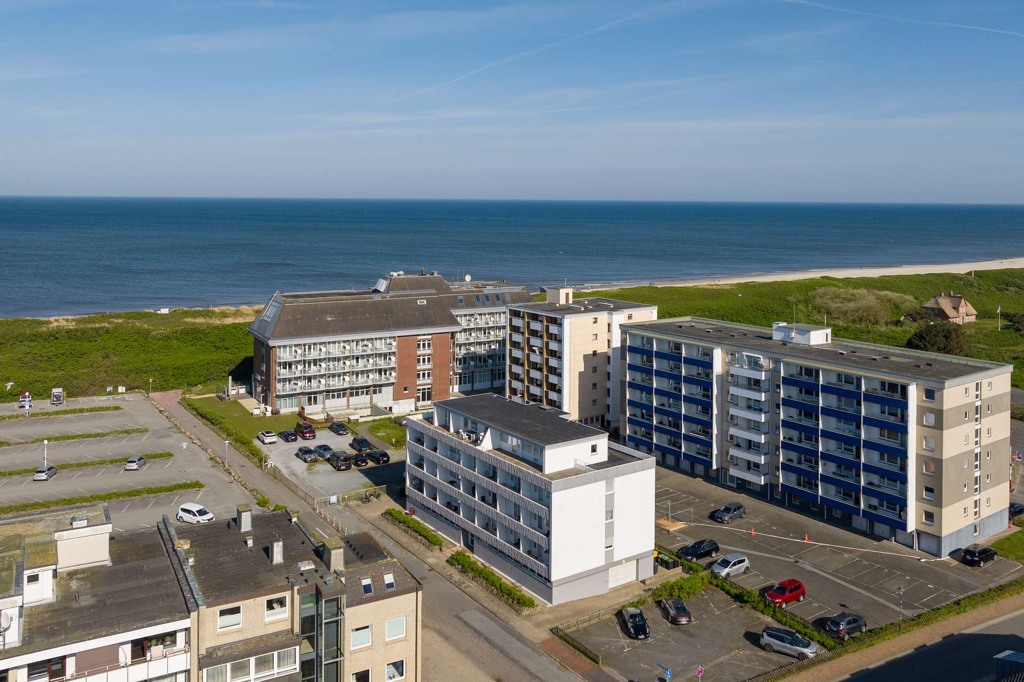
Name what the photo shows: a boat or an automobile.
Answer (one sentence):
Visible in the photo is an automobile.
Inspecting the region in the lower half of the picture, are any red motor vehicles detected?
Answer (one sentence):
Yes, a red motor vehicle can be seen in the lower half of the picture.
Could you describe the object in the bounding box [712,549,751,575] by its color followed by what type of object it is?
gray car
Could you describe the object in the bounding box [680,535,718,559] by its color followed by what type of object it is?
black car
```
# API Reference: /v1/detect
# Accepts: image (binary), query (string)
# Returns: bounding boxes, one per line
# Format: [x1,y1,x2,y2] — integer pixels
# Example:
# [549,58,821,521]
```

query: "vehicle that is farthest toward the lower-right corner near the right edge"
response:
[962,539,998,563]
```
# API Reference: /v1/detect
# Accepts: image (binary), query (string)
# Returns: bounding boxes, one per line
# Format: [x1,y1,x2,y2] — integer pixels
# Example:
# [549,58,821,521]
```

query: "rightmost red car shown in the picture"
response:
[766,576,806,605]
